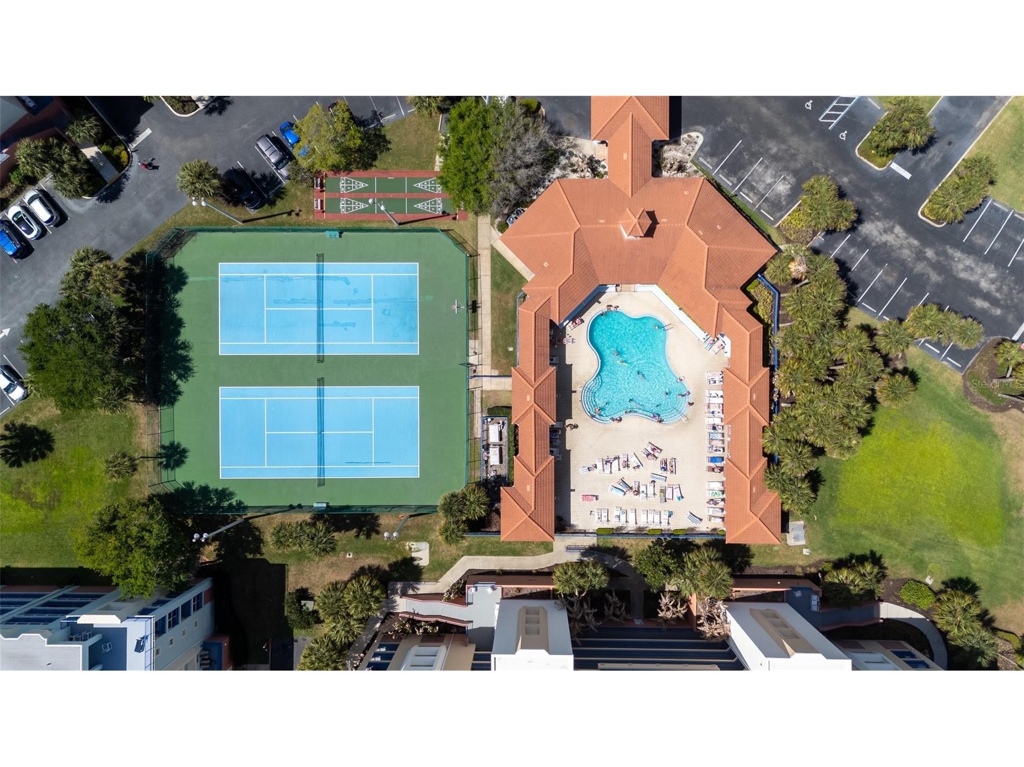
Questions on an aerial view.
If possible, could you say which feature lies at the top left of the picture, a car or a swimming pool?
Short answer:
car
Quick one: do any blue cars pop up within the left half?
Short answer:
Yes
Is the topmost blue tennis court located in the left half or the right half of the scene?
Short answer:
left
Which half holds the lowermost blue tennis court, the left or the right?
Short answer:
left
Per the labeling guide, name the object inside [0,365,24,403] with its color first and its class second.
white car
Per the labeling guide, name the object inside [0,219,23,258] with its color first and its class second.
blue car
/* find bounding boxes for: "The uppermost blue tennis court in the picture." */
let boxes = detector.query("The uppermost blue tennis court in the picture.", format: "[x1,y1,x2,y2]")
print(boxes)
[219,253,419,363]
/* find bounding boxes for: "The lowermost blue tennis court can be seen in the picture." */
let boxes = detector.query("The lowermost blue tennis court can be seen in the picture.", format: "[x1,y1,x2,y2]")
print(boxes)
[220,378,420,488]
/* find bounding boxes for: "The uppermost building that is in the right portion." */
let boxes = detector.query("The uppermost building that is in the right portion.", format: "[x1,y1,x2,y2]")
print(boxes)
[499,20,782,545]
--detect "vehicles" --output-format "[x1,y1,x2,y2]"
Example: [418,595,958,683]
[0,365,24,403]
[3,201,39,241]
[223,166,261,209]
[0,219,23,258]
[276,117,310,156]
[21,187,58,227]
[255,134,293,178]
